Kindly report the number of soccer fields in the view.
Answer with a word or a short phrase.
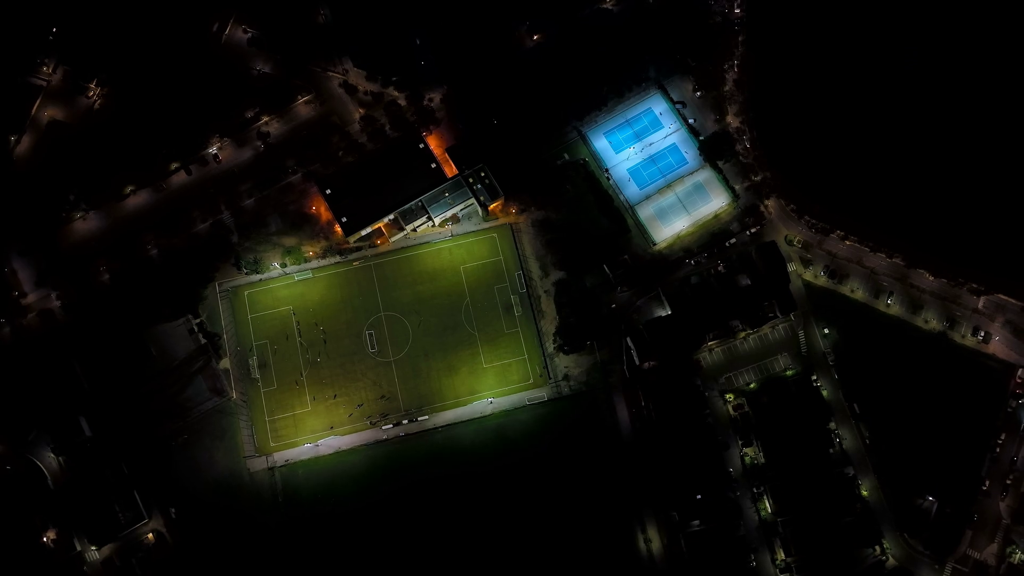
1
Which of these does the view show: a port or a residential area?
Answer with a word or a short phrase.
residential area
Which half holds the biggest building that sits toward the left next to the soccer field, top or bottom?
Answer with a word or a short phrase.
top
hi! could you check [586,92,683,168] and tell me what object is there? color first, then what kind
blue tennis court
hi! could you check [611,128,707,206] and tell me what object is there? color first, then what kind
blue tennis court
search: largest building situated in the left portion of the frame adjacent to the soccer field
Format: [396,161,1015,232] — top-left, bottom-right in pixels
[306,122,451,243]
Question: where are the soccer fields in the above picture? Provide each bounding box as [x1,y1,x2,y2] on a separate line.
[229,223,549,455]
